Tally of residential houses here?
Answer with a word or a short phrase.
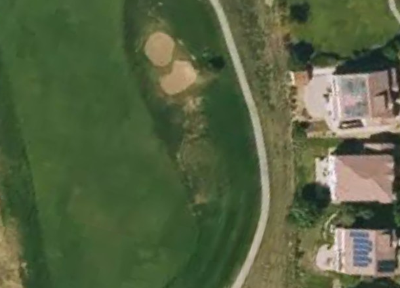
3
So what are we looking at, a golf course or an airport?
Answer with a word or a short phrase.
golf course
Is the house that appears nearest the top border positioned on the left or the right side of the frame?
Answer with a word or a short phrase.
right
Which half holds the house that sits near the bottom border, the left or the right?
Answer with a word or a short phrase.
right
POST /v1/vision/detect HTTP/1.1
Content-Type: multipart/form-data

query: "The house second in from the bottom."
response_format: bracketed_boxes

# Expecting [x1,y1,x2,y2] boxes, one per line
[328,156,392,202]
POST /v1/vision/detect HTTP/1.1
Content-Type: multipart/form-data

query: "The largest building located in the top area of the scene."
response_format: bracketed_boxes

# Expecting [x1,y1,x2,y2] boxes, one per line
[327,72,397,122]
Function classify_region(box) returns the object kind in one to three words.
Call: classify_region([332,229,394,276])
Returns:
house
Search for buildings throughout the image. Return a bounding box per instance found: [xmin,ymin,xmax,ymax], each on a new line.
[332,229,394,276]
[327,72,397,122]
[328,156,392,202]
